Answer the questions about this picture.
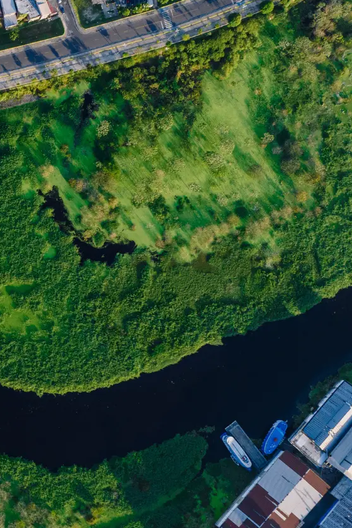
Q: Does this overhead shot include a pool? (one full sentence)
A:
No, there appears to be no pool in this shot.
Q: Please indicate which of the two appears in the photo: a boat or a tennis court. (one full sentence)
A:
This aerial view contains a boat.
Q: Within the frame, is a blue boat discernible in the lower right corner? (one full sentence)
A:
Yes, you'll find a blue boat in the lower right corner.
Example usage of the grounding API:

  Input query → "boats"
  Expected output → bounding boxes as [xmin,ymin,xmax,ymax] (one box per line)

[263,419,286,454]
[221,432,252,474]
